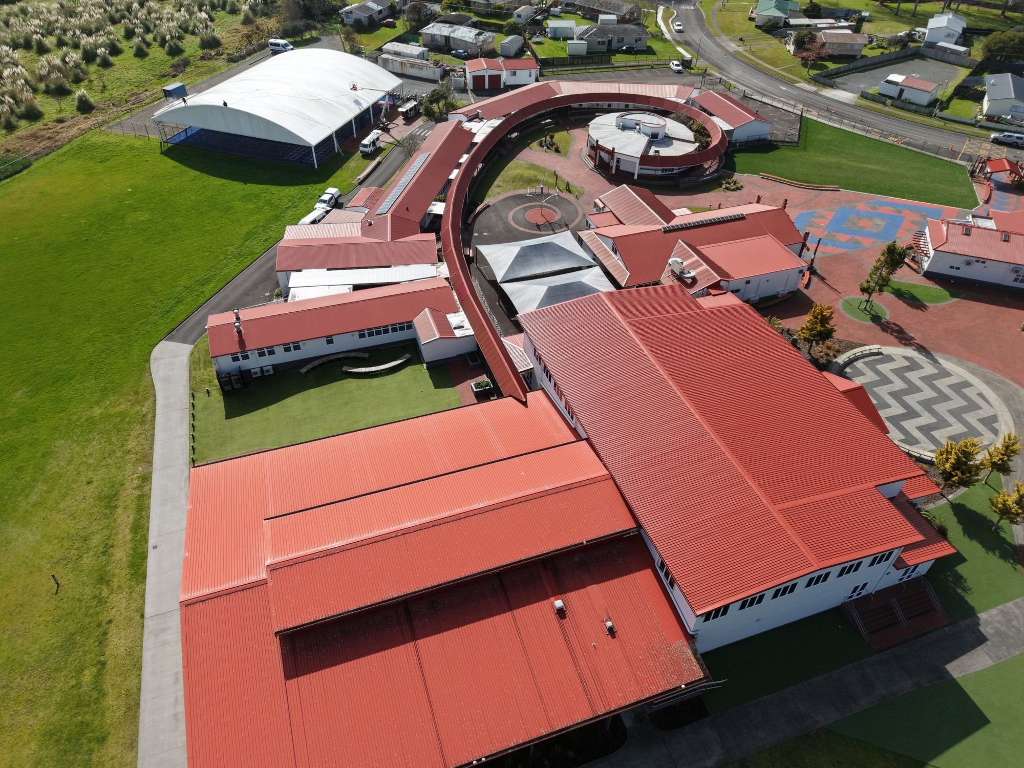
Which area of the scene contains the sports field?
left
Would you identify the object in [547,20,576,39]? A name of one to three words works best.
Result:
shed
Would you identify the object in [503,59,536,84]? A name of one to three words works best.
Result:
building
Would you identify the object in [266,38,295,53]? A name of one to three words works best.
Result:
vehicle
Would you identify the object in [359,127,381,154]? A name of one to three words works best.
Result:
vehicle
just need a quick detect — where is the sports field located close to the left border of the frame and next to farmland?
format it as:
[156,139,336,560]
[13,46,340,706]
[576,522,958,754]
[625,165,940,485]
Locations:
[0,136,393,768]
